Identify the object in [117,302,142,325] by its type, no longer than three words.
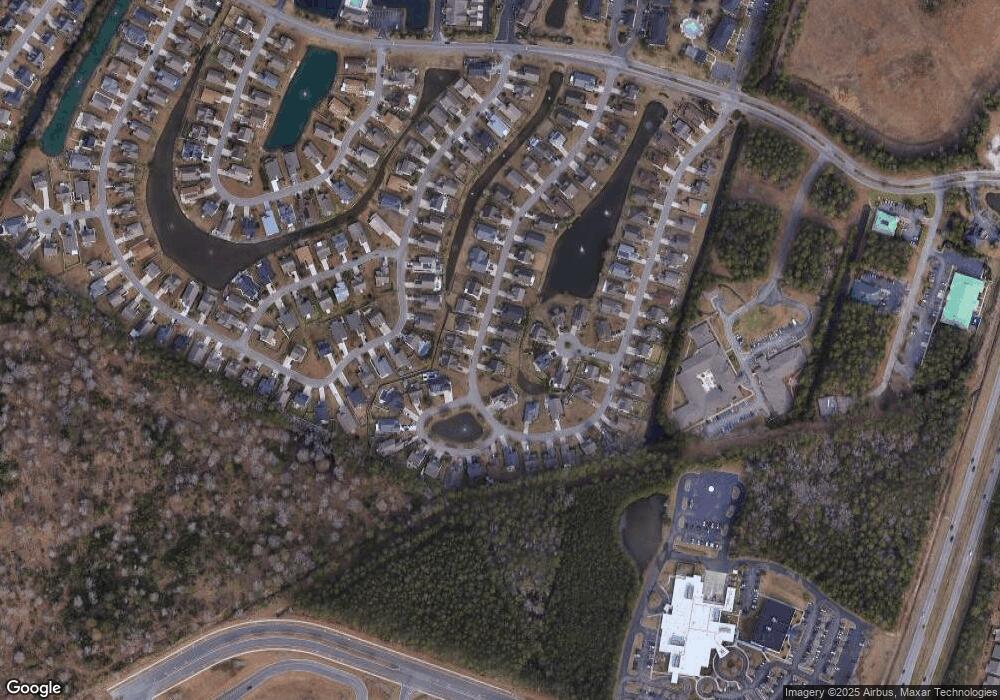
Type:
house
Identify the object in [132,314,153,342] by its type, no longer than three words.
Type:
house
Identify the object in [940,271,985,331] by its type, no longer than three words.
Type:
building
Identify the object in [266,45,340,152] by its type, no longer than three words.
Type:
pond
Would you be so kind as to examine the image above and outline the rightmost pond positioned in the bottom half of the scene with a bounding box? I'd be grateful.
[620,494,667,561]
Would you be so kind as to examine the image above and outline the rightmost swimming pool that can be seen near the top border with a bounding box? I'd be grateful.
[682,20,702,37]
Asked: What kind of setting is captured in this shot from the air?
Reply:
residential area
